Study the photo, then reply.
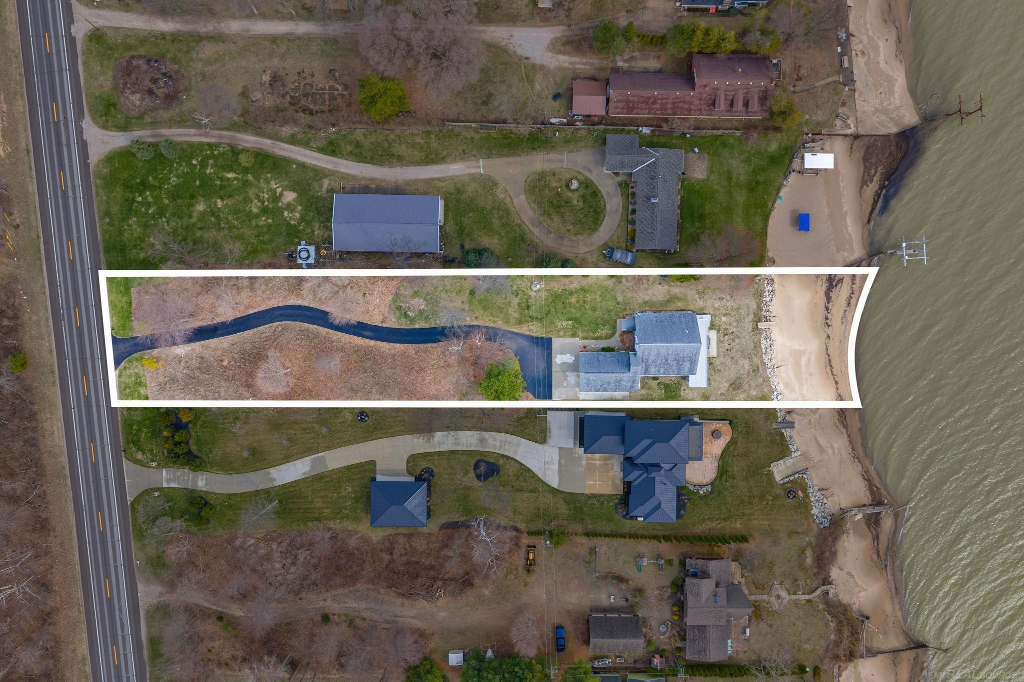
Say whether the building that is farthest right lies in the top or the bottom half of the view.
top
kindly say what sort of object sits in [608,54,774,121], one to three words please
house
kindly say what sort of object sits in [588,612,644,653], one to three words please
building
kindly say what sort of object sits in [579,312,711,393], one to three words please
house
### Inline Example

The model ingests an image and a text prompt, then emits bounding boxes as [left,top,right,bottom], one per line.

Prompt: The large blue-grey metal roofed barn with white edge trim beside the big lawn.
[331,193,441,254]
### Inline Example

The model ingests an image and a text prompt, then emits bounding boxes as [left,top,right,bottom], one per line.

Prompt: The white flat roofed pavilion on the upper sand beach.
[800,153,833,175]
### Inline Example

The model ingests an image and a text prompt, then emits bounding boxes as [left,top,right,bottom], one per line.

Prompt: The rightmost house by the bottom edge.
[675,552,754,662]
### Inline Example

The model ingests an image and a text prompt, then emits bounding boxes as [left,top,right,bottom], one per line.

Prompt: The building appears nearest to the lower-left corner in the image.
[370,480,427,527]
